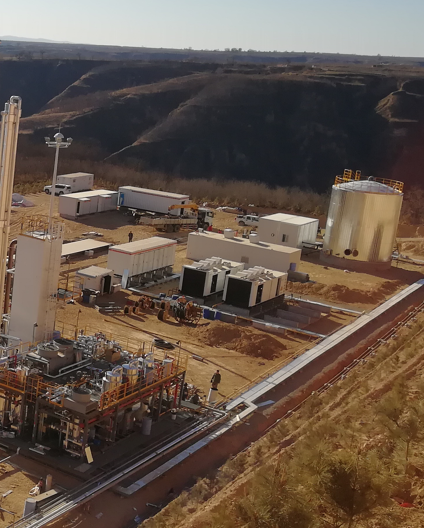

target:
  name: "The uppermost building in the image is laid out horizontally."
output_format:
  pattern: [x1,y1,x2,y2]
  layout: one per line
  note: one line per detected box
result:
[58,188,125,218]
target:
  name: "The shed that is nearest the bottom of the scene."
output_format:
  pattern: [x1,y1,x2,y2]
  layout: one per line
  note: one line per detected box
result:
[74,262,126,293]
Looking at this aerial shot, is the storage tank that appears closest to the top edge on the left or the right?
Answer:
right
